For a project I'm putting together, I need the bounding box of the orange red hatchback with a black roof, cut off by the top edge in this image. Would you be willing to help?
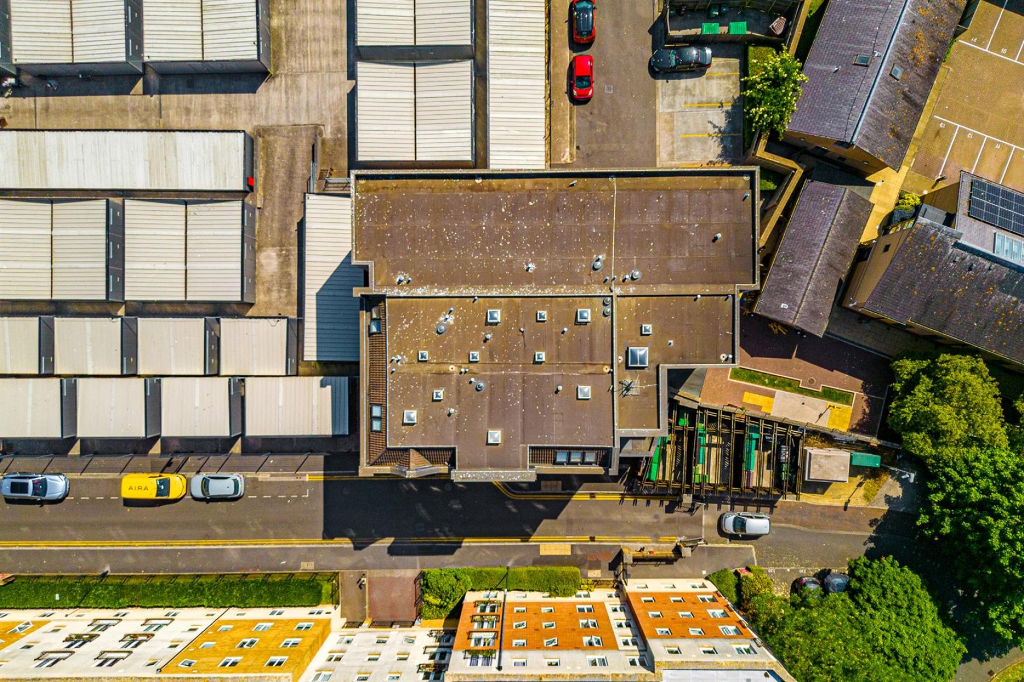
[570,0,598,45]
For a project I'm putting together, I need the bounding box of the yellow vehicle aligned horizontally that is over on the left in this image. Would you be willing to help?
[121,473,189,502]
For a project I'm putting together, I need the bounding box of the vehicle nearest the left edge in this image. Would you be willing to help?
[3,473,73,503]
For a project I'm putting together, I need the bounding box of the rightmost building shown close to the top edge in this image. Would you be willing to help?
[768,0,968,180]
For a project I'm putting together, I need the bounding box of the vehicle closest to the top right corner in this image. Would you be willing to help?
[648,44,711,75]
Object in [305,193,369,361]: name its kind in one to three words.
building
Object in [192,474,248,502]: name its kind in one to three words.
car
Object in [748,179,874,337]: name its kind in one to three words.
house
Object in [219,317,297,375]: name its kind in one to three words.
building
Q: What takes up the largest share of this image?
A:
buildings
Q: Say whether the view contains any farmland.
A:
No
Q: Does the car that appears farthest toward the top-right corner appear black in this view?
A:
Yes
